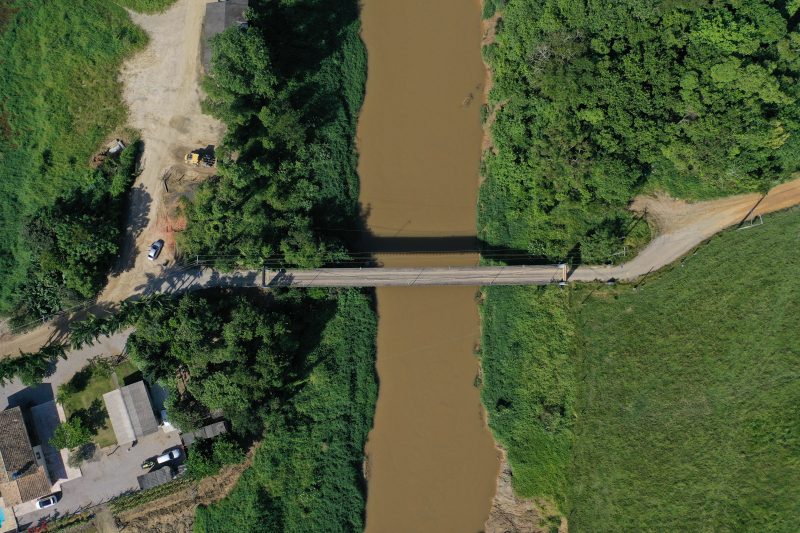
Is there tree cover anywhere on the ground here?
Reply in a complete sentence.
Yes, there's tree cover in this view.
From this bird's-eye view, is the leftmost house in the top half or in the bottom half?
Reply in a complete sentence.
The bottom half of the photo is where the leftmost house is.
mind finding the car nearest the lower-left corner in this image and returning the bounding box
[34,497,56,511]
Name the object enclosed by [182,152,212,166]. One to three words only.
vehicle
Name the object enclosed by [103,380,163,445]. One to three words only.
barn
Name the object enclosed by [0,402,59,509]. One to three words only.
house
